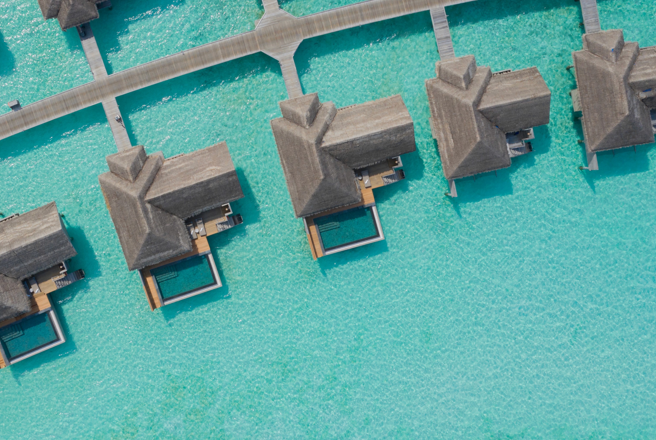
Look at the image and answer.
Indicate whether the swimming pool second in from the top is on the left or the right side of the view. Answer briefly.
left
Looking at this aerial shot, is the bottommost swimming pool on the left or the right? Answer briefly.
left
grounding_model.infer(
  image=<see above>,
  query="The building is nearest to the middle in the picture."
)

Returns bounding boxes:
[270,90,416,260]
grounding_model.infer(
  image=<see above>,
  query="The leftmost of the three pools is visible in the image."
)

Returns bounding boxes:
[0,293,67,366]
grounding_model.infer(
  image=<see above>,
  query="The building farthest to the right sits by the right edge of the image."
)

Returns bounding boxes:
[564,28,656,170]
